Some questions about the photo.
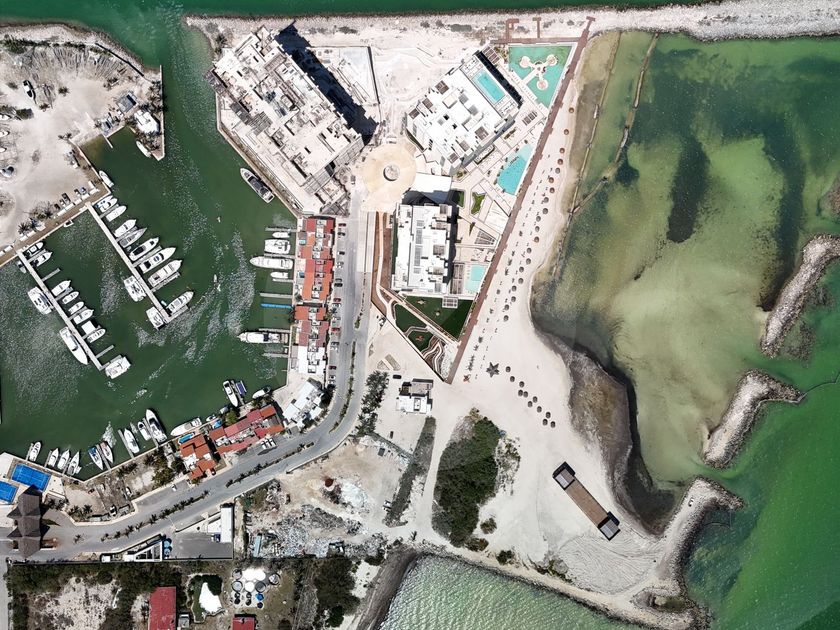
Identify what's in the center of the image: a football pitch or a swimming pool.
swimming pool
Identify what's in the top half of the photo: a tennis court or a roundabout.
roundabout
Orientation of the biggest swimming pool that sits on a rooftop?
diagonally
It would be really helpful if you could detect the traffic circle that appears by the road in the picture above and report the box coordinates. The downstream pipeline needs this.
[362,148,417,212]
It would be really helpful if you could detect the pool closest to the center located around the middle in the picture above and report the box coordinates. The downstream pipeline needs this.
[465,265,486,292]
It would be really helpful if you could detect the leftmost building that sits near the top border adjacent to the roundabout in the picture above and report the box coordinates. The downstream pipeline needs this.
[213,26,365,192]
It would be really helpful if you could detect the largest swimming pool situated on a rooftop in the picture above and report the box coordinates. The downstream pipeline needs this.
[478,73,505,103]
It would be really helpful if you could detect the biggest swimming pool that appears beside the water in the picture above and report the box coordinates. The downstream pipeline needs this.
[508,45,573,108]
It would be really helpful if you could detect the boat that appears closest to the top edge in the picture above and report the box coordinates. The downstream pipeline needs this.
[20,78,33,100]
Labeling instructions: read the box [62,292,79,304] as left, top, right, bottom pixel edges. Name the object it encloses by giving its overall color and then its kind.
white boat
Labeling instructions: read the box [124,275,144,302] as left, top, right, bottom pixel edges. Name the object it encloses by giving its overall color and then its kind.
white boat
